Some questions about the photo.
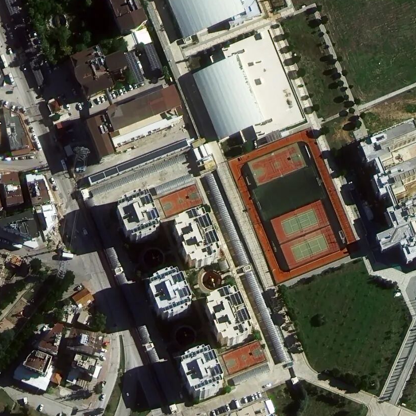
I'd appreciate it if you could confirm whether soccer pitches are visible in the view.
Yes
